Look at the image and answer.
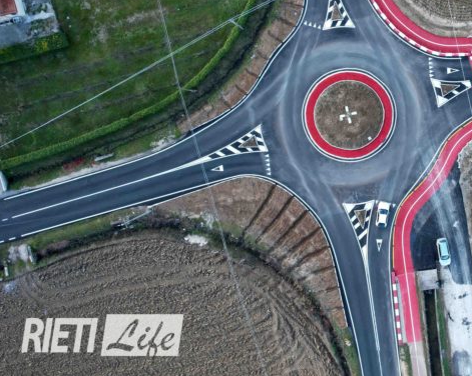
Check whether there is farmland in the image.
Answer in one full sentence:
Yes, there's farmland in this view.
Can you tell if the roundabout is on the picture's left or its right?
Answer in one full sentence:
It is on the right.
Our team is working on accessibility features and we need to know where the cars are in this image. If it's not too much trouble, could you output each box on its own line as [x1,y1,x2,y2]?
[437,239,451,265]
[376,201,389,227]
